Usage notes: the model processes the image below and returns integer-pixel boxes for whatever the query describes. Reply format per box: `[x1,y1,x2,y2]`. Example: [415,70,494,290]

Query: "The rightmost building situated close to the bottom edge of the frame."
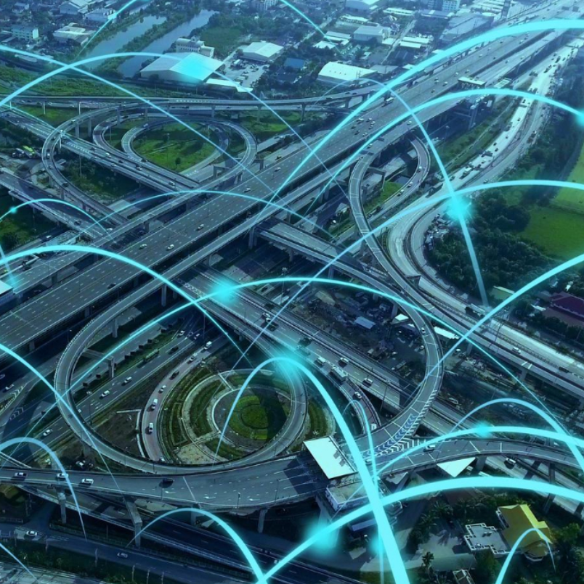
[491,497,555,566]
